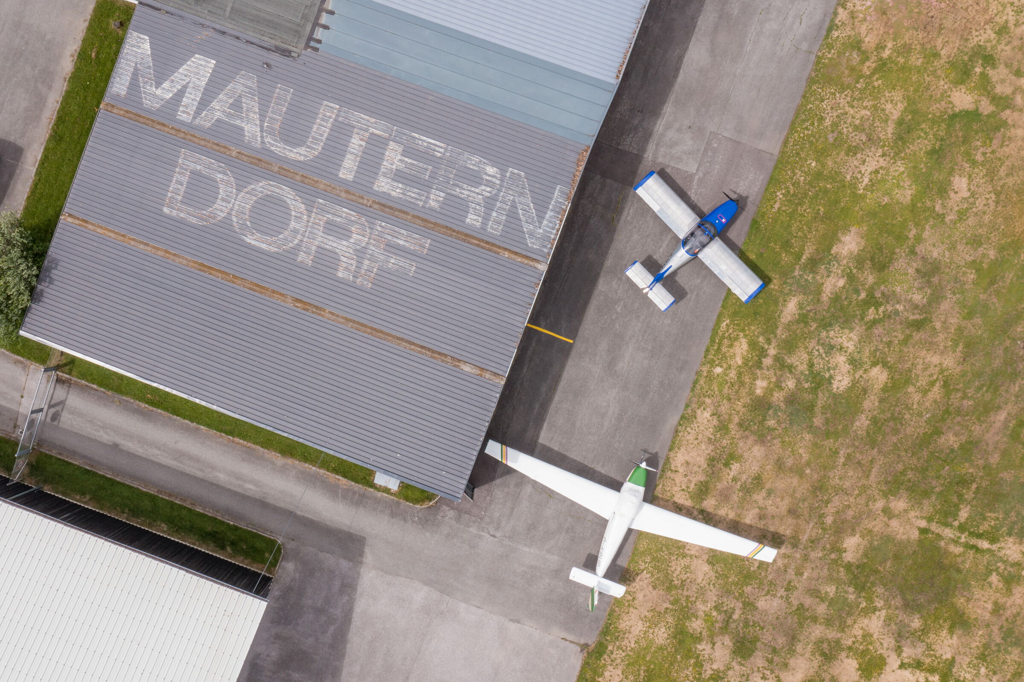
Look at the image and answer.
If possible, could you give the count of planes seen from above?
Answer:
two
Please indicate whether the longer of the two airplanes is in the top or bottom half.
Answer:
bottom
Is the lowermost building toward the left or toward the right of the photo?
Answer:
left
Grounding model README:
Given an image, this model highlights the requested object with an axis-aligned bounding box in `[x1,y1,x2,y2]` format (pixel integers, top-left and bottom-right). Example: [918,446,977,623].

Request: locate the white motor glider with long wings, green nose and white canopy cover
[485,441,775,613]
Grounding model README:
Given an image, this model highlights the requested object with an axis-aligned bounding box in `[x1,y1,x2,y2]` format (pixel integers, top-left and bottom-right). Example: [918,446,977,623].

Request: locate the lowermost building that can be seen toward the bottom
[0,472,274,682]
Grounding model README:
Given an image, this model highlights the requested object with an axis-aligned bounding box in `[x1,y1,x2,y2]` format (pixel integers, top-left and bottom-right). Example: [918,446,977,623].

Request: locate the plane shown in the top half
[626,172,765,311]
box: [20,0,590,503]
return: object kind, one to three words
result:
hangar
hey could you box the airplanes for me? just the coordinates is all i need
[485,441,775,613]
[626,172,765,311]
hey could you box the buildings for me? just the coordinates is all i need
[0,472,274,682]
[20,0,590,503]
